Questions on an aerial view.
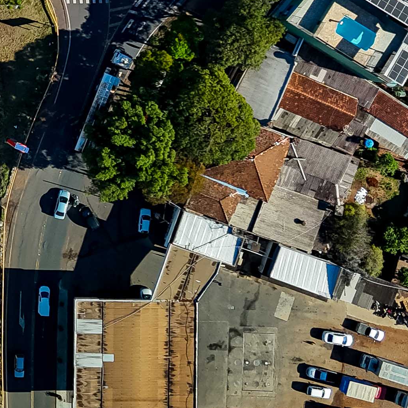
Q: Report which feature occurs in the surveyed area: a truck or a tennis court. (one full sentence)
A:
I can see a truck in this picture.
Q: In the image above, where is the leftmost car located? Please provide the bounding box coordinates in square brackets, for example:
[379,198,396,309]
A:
[13,354,27,378]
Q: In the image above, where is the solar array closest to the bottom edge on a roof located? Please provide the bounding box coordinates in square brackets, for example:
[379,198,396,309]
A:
[388,50,408,83]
